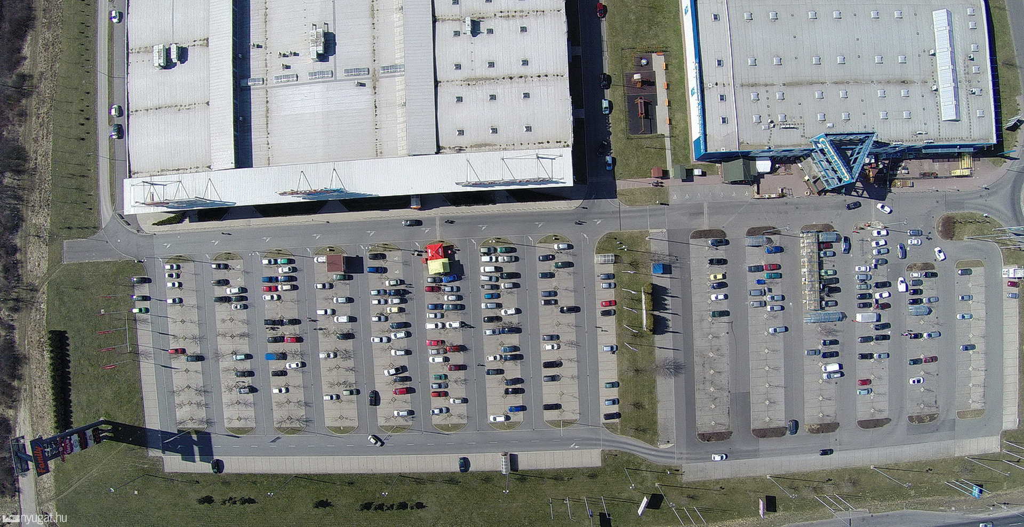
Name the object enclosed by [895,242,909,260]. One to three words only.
vehicle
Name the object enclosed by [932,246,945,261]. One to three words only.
vehicle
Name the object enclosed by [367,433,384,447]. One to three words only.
car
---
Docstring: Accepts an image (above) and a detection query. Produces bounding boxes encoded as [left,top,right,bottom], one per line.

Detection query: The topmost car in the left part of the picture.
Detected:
[110,9,122,24]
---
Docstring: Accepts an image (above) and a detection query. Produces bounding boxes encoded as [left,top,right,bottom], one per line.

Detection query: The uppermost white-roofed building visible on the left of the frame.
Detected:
[123,0,574,215]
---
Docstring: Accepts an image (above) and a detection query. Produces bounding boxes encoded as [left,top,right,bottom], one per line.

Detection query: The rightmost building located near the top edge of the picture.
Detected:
[679,0,996,163]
